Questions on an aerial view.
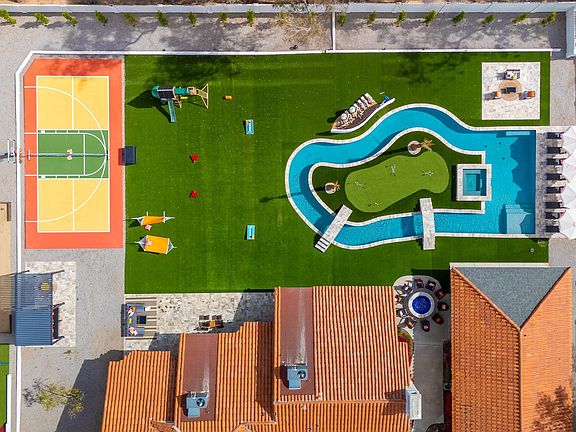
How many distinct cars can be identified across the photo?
0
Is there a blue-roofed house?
No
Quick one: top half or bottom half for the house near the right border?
bottom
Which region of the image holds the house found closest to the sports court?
bottom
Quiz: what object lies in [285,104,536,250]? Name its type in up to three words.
swimming pool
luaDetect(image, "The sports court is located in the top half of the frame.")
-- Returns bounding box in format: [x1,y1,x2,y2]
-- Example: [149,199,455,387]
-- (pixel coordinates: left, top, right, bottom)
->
[24,60,124,248]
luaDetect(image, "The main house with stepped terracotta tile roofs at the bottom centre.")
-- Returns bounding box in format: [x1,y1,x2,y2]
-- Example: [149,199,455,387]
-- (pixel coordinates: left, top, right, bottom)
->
[100,287,421,432]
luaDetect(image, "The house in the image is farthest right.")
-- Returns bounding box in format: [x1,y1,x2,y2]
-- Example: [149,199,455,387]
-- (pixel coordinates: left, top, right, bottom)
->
[452,267,574,432]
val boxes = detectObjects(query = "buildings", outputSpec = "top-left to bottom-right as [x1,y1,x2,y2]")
[100,287,421,432]
[452,267,574,432]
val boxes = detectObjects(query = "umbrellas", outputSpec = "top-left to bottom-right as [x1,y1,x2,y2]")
[555,209,576,242]
[556,182,576,211]
[557,122,576,155]
[557,153,576,183]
